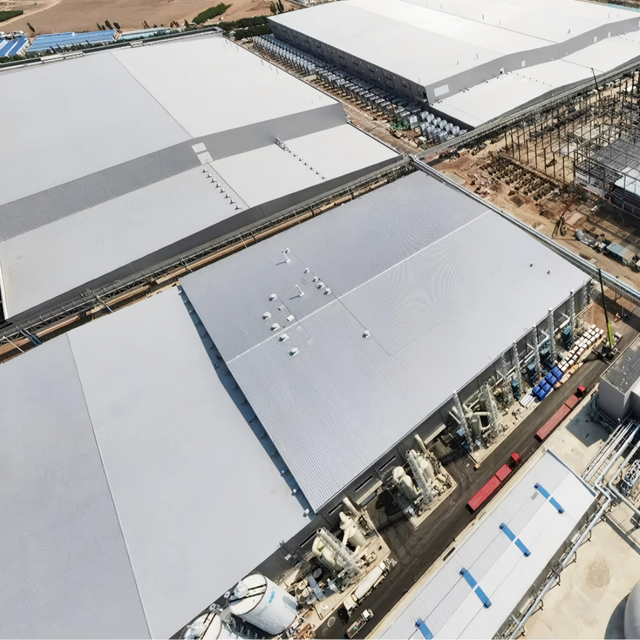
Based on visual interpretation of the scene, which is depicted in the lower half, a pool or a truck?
truck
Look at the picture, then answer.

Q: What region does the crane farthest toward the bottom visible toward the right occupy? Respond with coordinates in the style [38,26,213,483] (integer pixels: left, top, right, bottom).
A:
[598,267,628,358]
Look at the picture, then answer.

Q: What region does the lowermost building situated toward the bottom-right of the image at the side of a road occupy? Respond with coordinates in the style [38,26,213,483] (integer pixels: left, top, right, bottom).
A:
[377,449,597,640]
